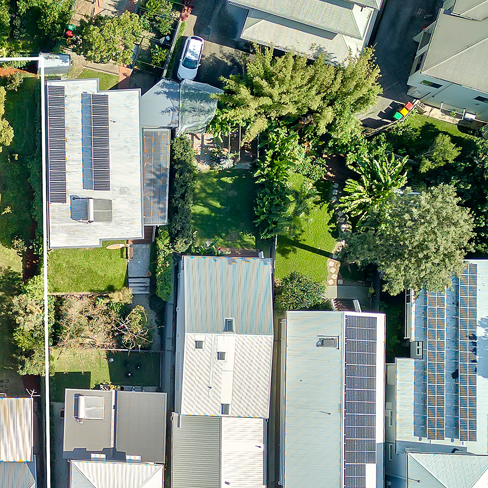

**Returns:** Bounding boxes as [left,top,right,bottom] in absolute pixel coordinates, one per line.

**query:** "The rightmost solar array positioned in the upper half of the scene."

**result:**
[90,94,110,191]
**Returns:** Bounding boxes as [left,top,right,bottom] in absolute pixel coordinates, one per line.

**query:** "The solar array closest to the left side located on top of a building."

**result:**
[47,85,66,203]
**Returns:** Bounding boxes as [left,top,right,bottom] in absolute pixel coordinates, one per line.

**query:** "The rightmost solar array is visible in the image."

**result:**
[453,264,478,442]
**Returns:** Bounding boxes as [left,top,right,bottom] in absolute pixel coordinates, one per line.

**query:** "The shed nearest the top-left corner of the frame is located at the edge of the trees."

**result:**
[38,55,71,75]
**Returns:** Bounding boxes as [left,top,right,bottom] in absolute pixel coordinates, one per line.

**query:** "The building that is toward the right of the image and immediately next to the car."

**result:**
[216,0,383,69]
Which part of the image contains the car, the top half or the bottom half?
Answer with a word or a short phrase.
top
